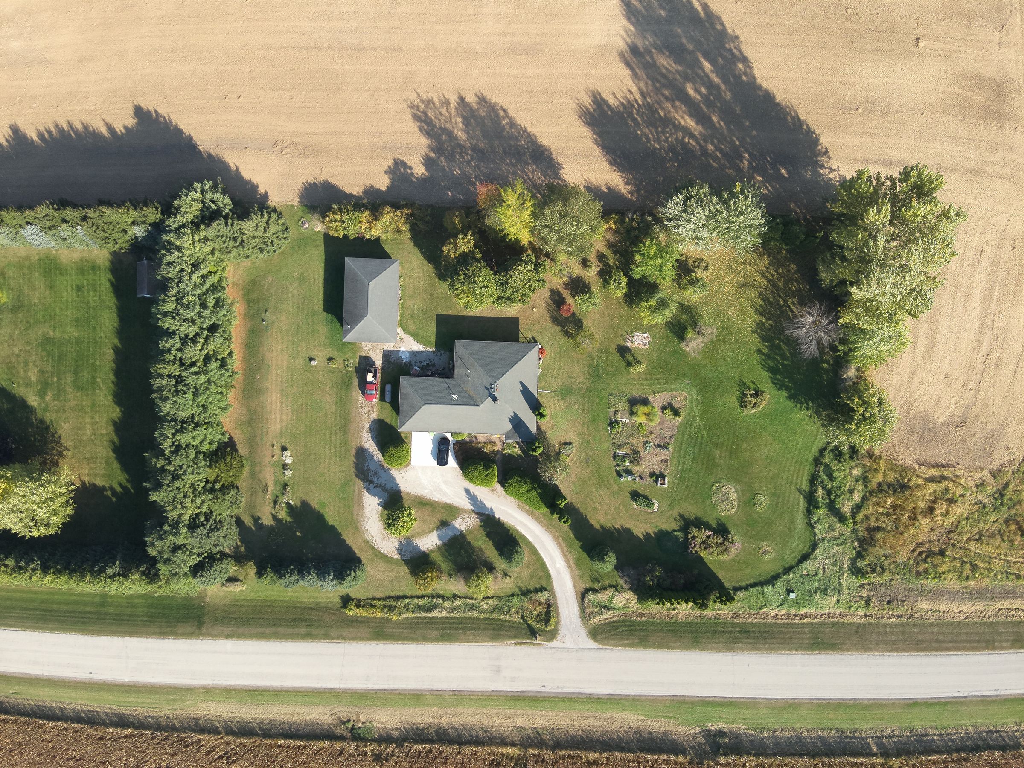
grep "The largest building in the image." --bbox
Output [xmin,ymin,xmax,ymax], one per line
[398,340,551,443]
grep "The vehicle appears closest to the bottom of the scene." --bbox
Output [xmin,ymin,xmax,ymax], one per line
[436,437,450,467]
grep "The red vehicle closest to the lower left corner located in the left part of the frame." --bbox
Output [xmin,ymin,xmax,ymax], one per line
[364,366,379,403]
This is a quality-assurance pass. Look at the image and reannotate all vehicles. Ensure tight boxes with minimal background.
[436,437,450,467]
[364,366,379,403]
